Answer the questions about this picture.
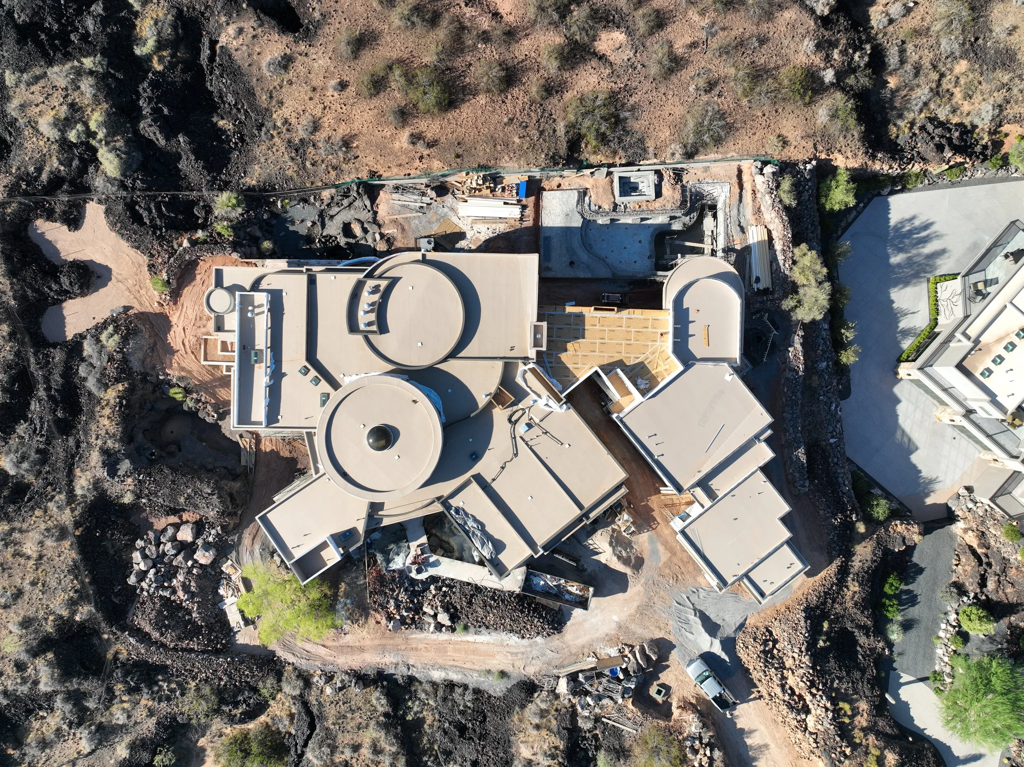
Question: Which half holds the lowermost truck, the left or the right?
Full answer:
It is on the right.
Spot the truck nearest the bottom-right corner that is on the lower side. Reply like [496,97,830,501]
[688,659,742,725]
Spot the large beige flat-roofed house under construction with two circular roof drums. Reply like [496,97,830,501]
[205,250,810,606]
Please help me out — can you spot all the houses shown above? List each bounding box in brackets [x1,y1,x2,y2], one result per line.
[900,218,1024,531]
[205,250,810,606]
